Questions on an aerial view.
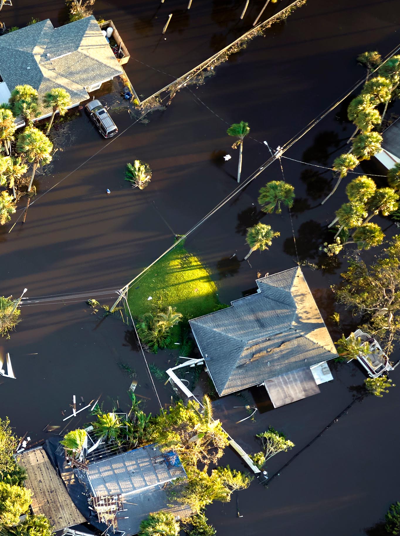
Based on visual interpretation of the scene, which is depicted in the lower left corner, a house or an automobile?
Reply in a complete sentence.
What appears in the lower left corner is a house.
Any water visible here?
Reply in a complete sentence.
Yes, there is water in the image.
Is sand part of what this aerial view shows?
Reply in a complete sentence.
No, sand can't be seen anywhere here.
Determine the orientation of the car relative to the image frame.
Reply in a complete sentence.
The car is oriented diagonally.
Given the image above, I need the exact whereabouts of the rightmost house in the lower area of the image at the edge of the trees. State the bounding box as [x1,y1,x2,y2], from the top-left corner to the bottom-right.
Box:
[187,266,339,409]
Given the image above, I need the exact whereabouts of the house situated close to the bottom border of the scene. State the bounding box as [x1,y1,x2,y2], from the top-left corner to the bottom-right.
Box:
[11,438,187,536]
